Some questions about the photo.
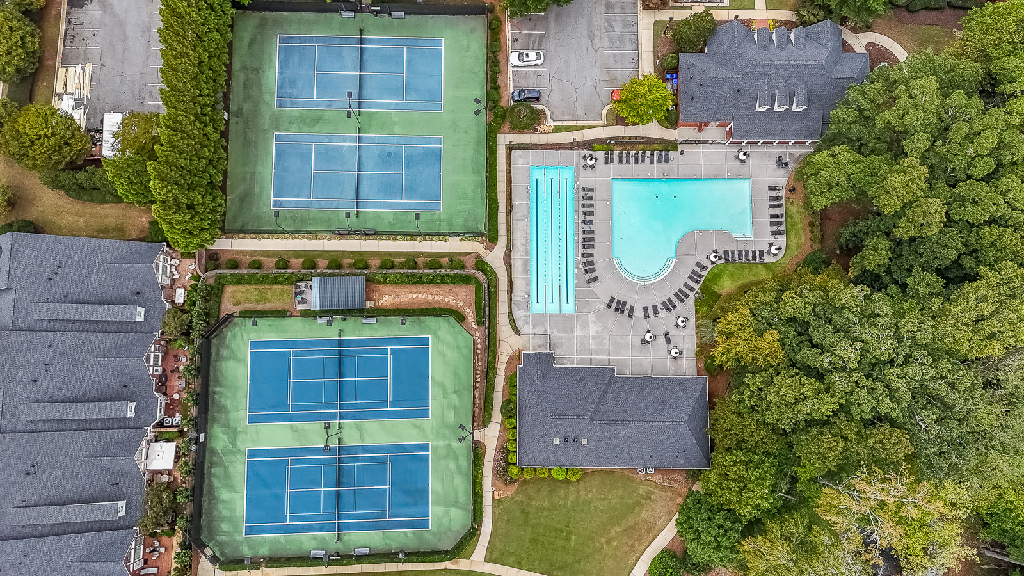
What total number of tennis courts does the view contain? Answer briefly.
4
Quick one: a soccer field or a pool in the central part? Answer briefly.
pool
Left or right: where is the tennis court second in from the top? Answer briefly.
left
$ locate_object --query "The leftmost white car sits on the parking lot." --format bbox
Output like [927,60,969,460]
[511,50,544,67]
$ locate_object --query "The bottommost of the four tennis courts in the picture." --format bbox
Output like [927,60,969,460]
[201,433,473,562]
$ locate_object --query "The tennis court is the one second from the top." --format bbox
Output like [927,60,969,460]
[225,120,487,236]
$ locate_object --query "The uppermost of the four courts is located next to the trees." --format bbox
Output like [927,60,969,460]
[229,11,487,122]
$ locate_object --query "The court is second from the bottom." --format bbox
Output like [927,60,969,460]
[205,316,474,436]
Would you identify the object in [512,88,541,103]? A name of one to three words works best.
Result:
car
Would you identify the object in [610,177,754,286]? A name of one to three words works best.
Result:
swimming pool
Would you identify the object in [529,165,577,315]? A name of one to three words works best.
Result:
swimming pool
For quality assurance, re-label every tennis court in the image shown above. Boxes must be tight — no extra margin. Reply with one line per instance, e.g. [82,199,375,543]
[201,433,473,562]
[229,11,487,122]
[225,120,487,236]
[205,316,474,436]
